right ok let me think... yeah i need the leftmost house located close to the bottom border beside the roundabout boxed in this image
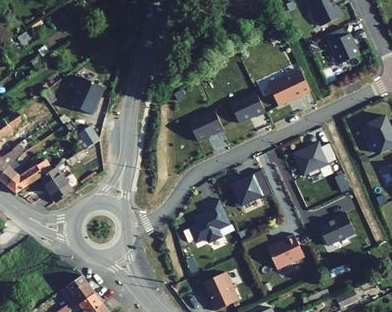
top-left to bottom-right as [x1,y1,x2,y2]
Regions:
[55,275,94,308]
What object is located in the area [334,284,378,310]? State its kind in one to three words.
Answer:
shed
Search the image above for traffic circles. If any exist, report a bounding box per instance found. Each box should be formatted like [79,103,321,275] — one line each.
[64,193,138,267]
